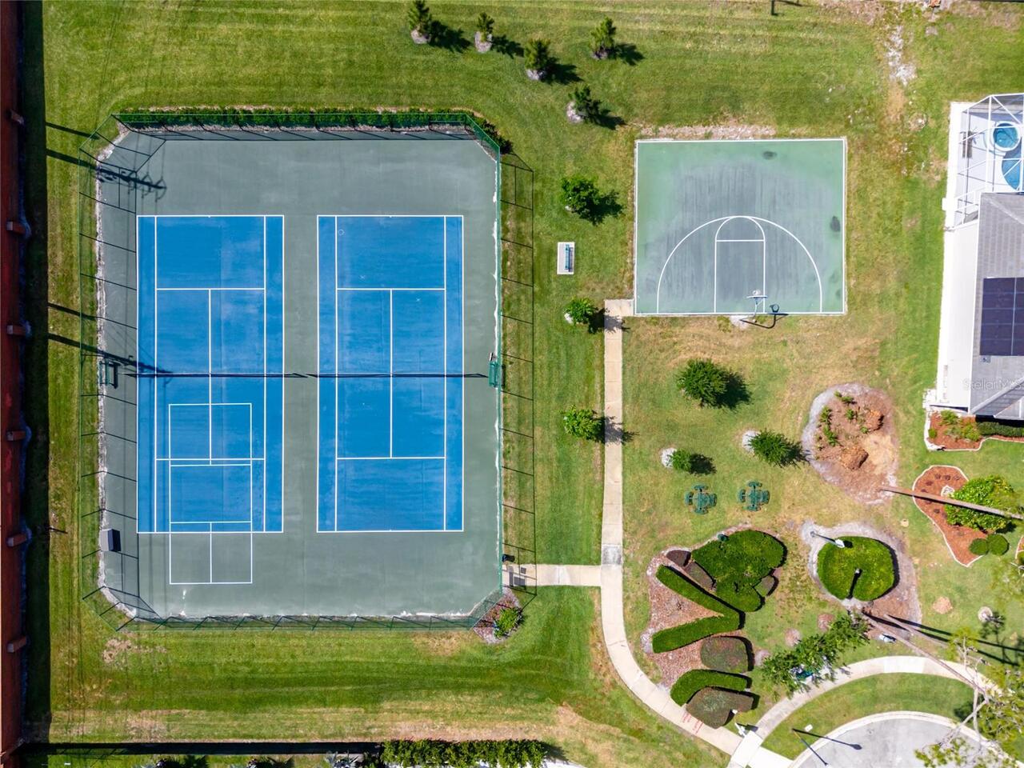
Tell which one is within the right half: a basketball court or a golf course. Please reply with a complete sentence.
Visible within the right half is a basketball court.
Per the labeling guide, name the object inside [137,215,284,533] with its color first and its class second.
blue tennis court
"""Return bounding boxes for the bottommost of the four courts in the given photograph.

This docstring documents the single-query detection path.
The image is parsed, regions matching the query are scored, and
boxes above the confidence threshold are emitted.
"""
[168,404,252,584]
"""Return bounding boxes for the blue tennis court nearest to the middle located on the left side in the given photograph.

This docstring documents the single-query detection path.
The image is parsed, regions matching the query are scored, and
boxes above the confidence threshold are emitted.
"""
[317,215,463,532]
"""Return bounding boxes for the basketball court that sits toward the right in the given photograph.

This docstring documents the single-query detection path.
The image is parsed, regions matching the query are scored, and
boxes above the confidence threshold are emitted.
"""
[633,136,848,317]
